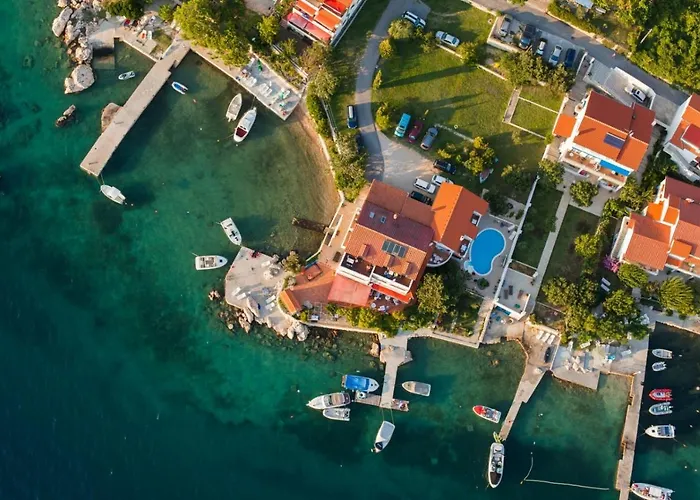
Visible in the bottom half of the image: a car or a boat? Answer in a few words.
boat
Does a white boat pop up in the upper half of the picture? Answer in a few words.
Yes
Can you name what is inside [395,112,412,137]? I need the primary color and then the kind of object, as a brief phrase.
blue car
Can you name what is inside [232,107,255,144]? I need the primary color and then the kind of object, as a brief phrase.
white boat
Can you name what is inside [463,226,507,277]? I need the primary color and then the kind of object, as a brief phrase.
blue swimming pool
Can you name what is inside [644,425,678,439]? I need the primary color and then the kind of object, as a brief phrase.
white boat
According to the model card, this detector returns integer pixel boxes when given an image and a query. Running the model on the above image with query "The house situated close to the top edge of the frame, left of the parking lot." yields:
[288,0,367,51]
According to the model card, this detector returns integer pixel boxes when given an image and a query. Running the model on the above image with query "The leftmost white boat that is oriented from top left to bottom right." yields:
[100,184,129,207]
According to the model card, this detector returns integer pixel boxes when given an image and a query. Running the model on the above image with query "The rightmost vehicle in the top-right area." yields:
[625,87,647,105]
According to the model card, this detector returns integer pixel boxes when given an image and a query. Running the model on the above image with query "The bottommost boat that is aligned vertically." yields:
[489,438,504,489]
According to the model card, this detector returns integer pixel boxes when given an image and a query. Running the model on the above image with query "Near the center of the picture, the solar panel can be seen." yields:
[382,241,408,259]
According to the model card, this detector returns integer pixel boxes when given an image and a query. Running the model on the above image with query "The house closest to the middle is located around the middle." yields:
[280,179,488,317]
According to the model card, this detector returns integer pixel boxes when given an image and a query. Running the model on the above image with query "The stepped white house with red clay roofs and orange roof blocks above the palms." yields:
[604,176,700,281]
